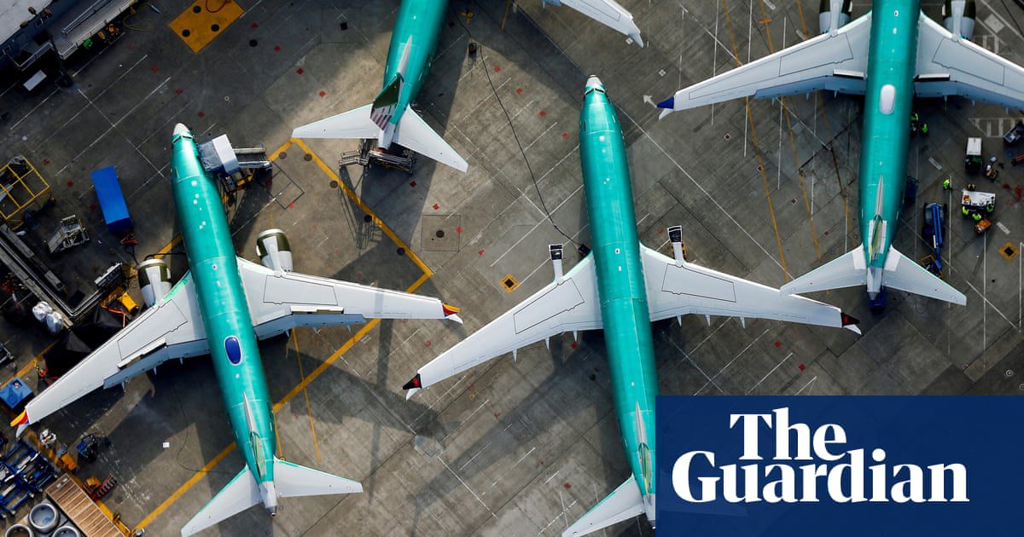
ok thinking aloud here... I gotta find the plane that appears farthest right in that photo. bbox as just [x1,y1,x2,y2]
[658,0,1024,306]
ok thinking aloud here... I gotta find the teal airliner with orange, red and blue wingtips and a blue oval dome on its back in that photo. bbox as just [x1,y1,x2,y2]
[12,123,462,537]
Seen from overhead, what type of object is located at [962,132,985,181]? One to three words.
truck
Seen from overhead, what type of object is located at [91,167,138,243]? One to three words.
shipping container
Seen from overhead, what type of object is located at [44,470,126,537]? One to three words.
trailer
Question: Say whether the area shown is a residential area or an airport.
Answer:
airport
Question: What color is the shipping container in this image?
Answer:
blue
